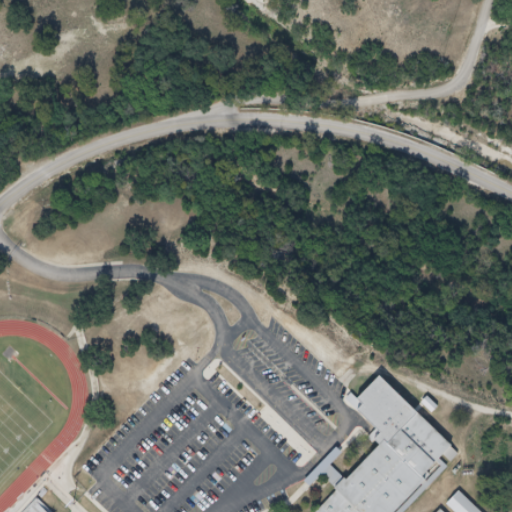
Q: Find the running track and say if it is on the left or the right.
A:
left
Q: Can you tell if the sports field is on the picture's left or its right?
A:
left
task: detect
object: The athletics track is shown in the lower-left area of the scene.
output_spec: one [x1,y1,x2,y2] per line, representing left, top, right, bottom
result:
[0,319,87,512]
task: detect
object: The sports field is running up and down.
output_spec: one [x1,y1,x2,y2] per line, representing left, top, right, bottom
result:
[0,333,73,494]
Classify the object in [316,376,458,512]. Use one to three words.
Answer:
building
